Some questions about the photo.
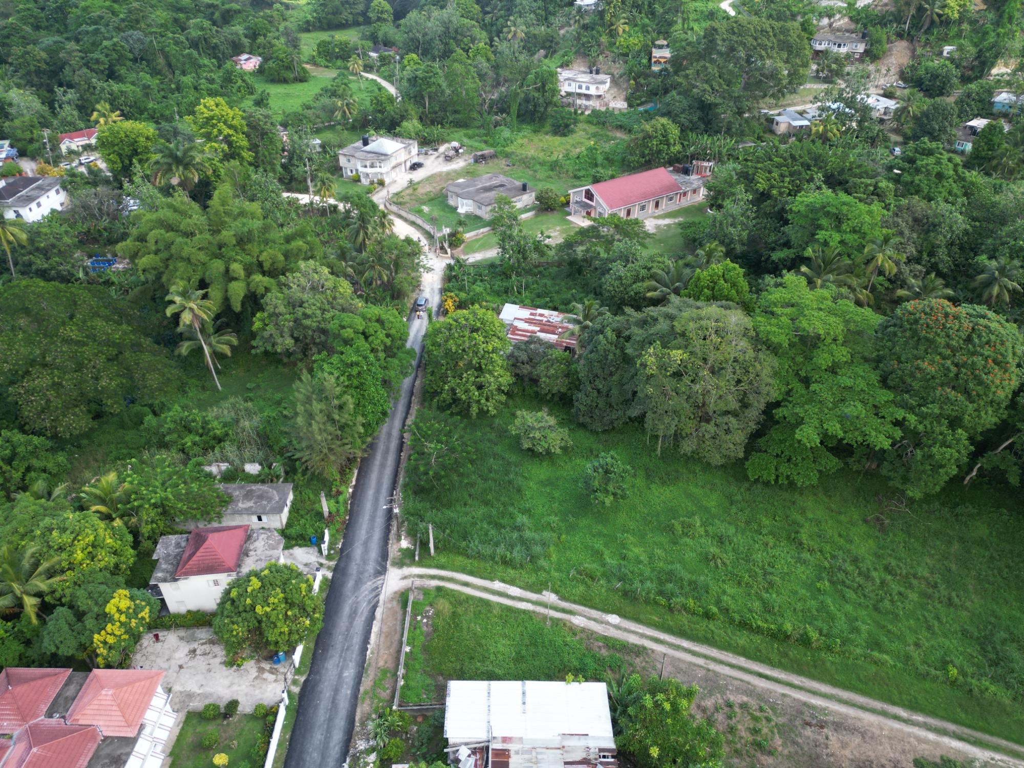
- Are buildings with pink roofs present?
Yes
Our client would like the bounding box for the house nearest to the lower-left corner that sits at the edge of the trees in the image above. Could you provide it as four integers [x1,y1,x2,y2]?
[0,666,177,768]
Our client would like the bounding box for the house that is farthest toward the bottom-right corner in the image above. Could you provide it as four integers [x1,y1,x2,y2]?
[441,677,619,768]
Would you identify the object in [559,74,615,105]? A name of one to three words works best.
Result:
house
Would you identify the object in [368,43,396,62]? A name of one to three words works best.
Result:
house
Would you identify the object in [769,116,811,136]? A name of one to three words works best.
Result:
building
